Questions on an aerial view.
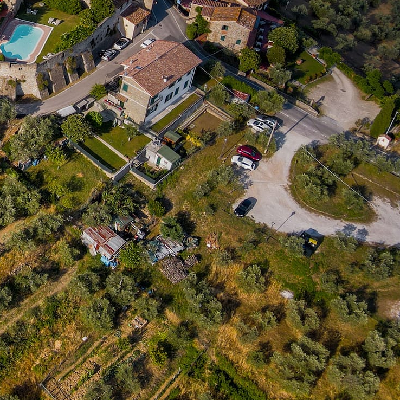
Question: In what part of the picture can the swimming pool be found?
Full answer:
The swimming pool is in the top left part of the image.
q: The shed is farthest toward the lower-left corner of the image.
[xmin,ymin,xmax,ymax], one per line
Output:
[84,224,125,271]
